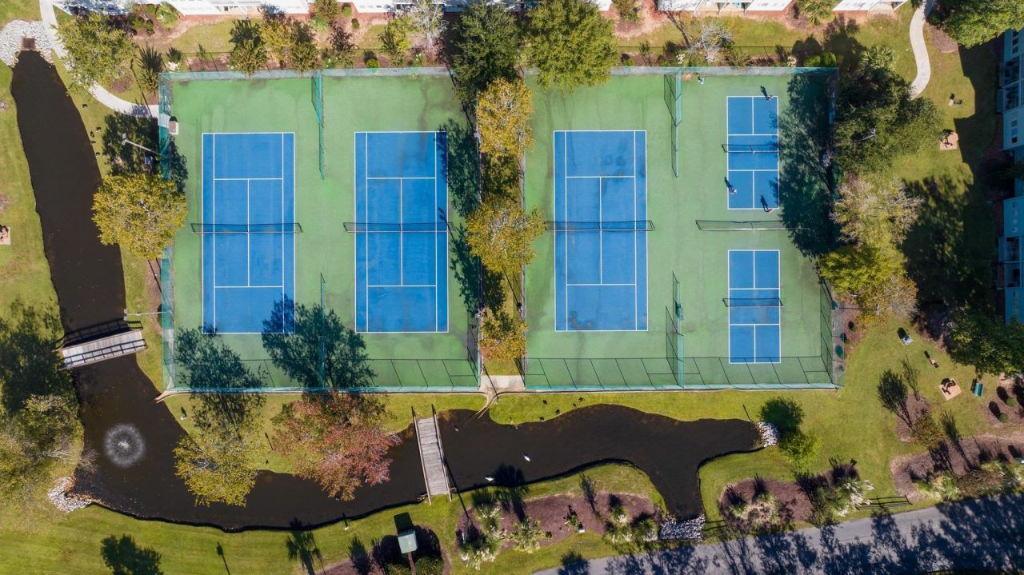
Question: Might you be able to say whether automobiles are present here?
No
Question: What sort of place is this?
sports ground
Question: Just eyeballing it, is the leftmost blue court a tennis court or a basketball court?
tennis court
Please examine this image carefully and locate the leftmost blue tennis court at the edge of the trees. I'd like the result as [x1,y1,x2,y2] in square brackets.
[202,133,295,333]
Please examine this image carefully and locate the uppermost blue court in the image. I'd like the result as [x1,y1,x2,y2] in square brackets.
[727,96,779,209]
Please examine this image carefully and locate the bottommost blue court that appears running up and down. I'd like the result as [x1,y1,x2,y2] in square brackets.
[729,250,781,363]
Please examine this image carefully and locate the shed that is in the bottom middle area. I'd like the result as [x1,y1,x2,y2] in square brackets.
[397,528,418,553]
